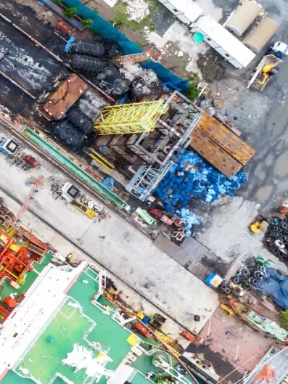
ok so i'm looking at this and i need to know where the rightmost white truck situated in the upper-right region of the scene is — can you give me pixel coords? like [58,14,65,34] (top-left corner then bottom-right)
[246,43,288,91]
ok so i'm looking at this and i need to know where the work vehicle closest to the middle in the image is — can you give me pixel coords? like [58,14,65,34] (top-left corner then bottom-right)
[150,205,176,227]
